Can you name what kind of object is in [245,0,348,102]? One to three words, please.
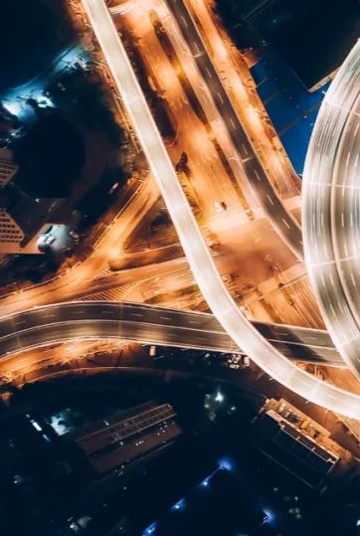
building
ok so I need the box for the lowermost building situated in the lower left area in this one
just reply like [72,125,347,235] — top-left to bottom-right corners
[57,484,127,536]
